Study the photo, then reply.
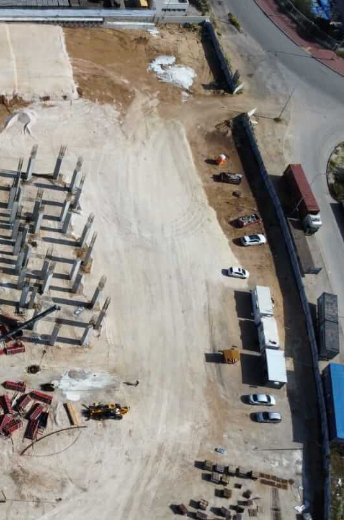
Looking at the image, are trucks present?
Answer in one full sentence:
Yes, there's a truck down there.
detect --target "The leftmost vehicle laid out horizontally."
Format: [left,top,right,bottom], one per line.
[80,401,133,422]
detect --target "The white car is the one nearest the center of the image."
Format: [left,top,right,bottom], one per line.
[226,265,252,279]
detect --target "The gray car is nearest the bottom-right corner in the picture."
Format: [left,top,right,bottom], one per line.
[253,409,285,423]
